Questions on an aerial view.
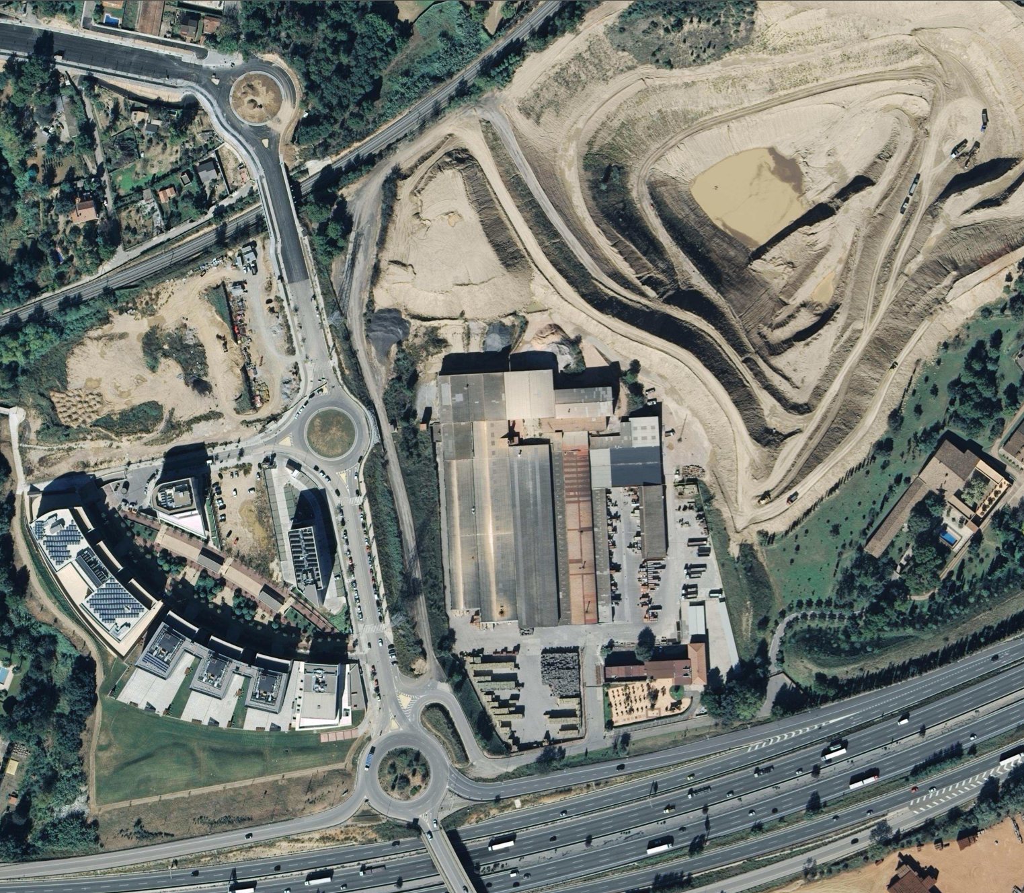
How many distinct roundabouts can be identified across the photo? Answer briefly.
3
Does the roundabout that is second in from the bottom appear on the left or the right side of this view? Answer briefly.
left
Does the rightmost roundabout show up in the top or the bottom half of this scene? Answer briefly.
bottom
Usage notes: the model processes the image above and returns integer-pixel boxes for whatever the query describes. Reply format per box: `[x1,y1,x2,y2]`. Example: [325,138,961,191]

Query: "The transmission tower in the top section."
[328,311,343,329]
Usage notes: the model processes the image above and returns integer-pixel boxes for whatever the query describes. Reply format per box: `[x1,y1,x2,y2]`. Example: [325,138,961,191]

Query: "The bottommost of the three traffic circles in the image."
[360,730,449,823]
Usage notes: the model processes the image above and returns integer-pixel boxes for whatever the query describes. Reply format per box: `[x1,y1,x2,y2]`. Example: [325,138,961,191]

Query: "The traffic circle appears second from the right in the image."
[291,393,369,472]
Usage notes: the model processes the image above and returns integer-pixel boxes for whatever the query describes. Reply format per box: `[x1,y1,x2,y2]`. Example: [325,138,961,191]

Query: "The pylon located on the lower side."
[392,611,407,629]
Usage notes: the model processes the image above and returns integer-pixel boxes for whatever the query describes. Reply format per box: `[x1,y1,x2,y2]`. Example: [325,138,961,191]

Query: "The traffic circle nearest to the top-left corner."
[219,60,295,137]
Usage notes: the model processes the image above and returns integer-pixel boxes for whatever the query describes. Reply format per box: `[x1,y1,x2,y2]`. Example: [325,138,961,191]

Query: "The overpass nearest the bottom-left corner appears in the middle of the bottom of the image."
[417,822,477,893]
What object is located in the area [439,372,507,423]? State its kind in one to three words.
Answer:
building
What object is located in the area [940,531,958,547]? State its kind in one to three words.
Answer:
swimming pool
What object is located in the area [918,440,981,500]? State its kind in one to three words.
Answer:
house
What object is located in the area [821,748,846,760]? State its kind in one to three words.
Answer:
vehicle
